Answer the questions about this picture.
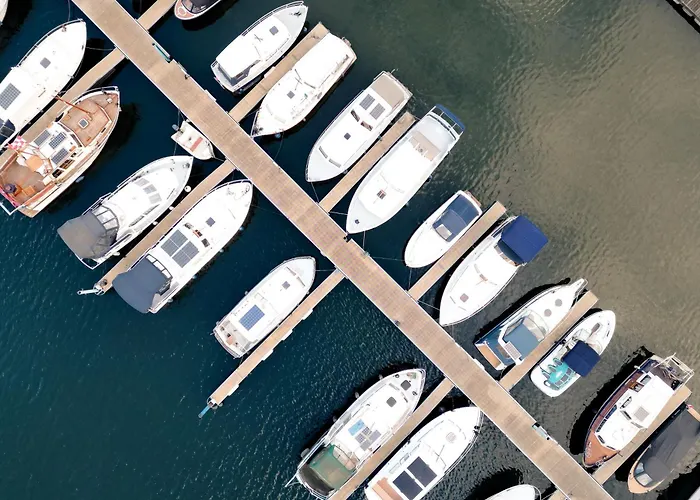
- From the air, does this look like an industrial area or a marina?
marina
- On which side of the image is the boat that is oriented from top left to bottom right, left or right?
left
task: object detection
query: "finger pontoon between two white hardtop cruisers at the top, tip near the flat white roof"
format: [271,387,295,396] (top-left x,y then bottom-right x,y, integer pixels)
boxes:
[226,22,330,125]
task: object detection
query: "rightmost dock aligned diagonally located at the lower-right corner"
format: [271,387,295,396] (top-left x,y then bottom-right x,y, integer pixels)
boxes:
[590,387,692,490]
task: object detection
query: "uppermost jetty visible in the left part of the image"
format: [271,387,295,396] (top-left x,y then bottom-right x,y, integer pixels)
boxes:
[133,0,172,33]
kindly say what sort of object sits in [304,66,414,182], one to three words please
boat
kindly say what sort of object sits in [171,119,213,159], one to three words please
boat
